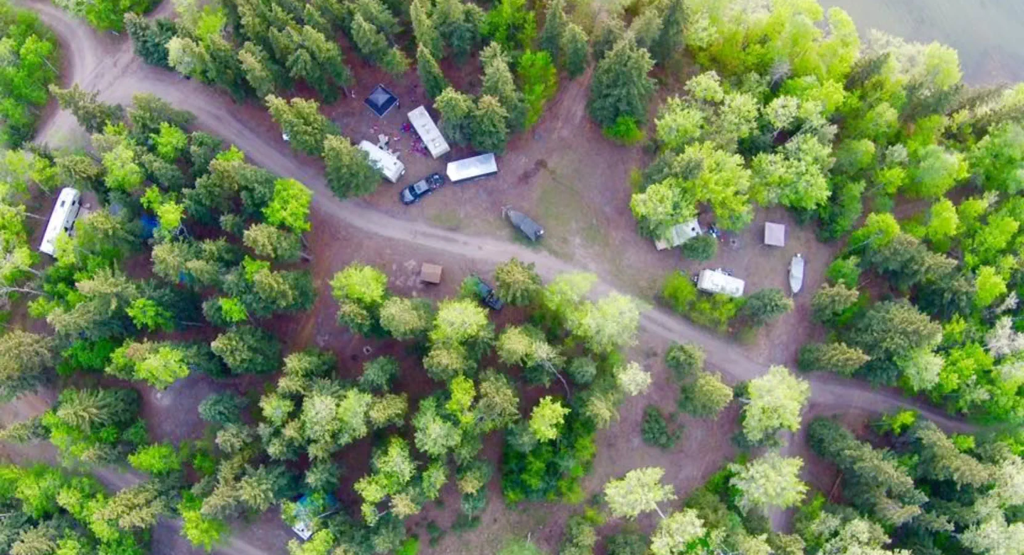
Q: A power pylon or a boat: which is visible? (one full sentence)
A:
It is a boat that can be seen here.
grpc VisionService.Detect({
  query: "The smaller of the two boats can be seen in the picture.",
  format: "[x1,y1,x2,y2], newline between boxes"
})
[789,253,803,293]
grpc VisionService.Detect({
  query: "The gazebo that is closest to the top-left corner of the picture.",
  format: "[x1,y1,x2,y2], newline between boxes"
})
[365,84,400,121]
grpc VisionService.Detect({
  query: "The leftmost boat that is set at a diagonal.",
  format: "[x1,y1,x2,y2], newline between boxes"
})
[505,209,545,241]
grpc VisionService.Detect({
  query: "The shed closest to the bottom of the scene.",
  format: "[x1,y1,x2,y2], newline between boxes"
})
[421,263,445,284]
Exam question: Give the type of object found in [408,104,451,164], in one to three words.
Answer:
trailer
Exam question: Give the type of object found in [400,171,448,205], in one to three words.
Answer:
truck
